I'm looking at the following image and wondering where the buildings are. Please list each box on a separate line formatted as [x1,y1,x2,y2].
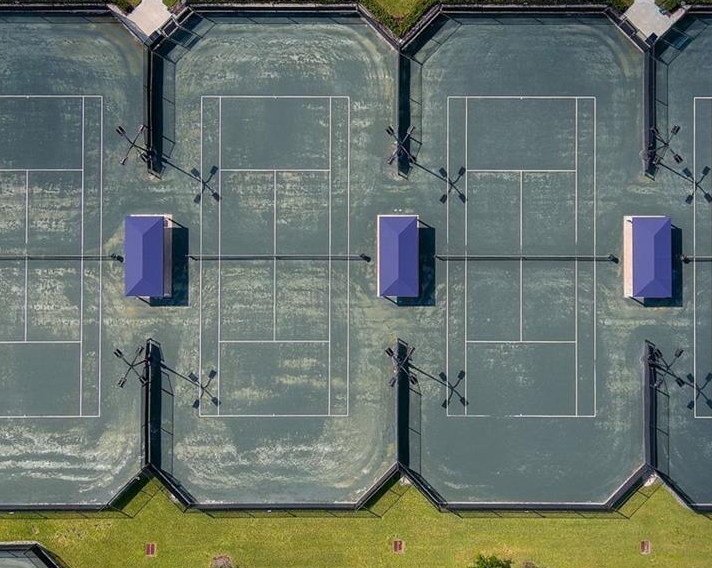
[377,215,419,297]
[125,214,172,297]
[624,215,671,297]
